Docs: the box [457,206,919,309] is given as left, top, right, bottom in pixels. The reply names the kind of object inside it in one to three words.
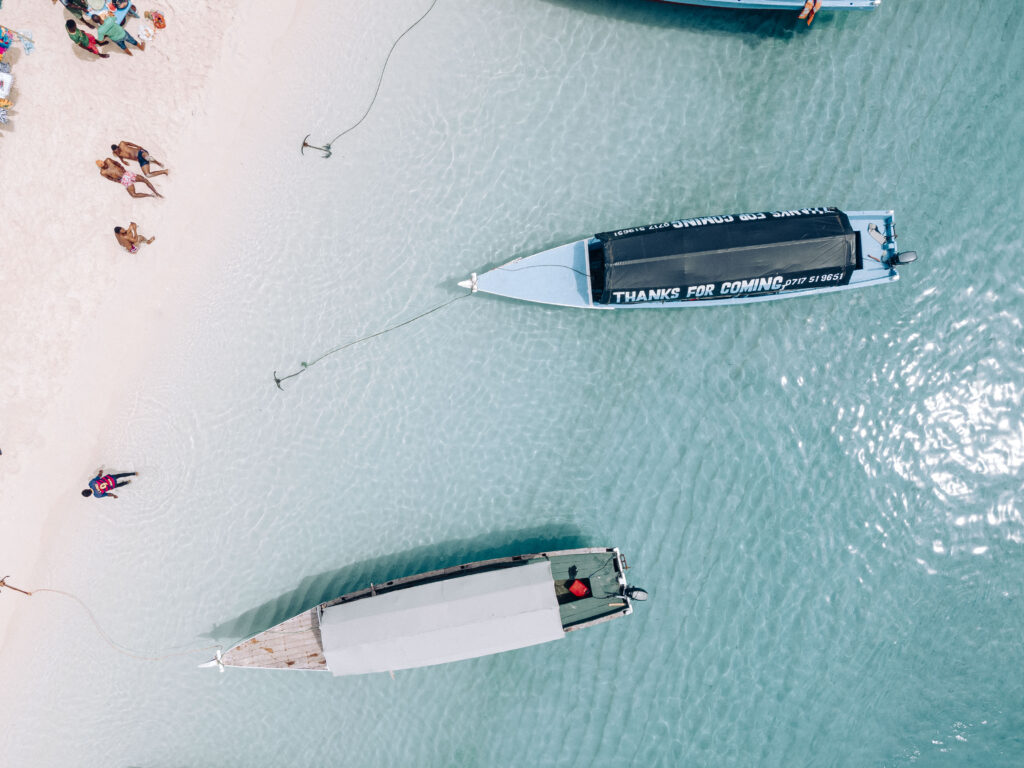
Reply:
boat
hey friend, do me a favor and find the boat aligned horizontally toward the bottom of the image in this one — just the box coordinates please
[198,544,645,678]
